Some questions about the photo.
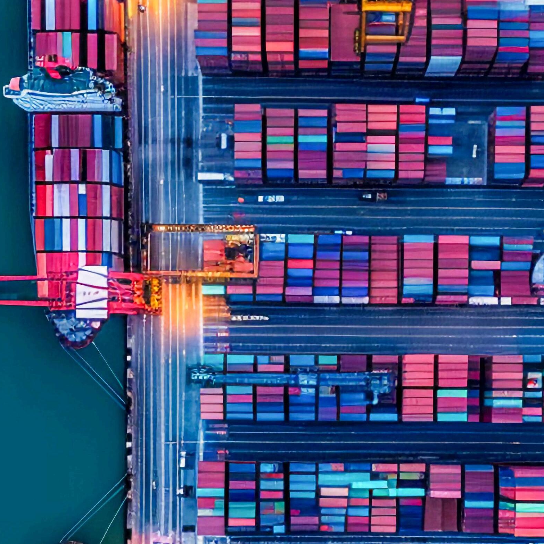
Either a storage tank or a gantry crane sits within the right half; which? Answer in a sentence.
Looking within the right half, you will find a gantry crane.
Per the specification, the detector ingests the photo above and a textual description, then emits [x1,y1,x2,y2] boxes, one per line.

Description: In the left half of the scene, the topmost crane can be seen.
[147,225,257,284]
